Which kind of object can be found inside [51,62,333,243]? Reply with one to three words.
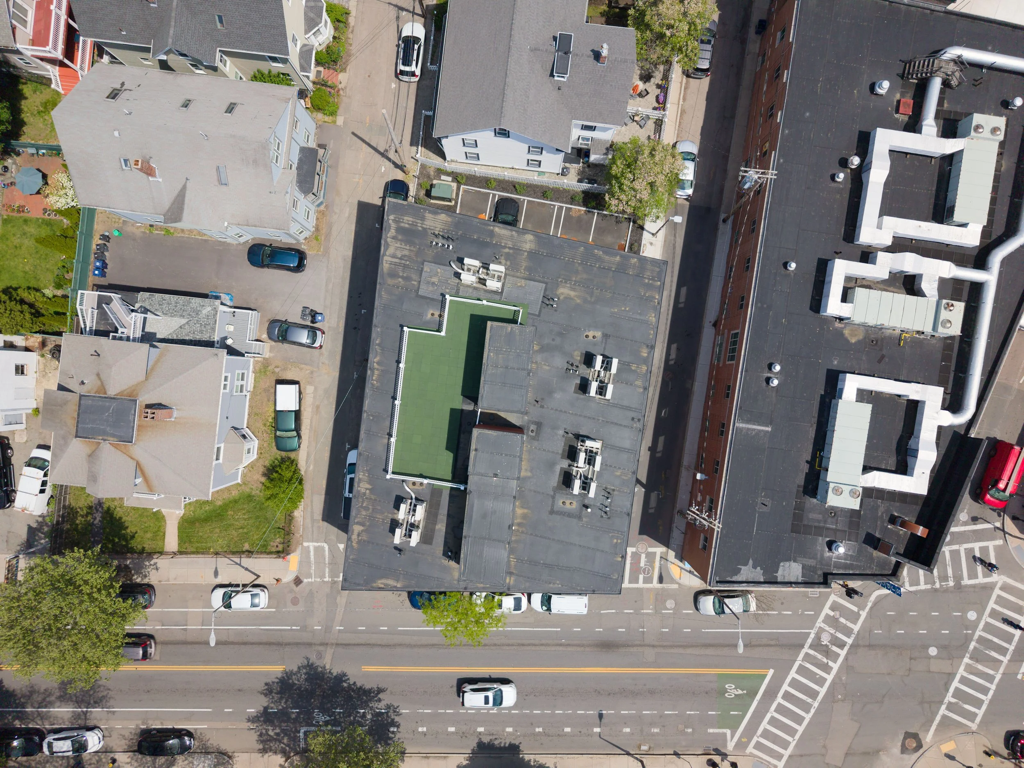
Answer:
house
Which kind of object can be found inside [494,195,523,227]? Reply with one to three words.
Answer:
car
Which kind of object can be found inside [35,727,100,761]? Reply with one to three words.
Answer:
car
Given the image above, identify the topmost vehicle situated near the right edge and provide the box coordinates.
[978,443,1024,511]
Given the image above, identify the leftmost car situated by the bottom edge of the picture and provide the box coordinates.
[0,730,39,762]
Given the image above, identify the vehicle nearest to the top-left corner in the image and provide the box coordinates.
[245,240,306,273]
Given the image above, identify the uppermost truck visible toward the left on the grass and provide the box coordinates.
[269,382,300,451]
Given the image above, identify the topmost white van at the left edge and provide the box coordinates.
[8,445,51,514]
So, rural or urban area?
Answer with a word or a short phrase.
urban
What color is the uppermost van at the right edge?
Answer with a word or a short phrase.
red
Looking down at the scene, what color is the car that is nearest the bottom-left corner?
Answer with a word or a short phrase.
black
